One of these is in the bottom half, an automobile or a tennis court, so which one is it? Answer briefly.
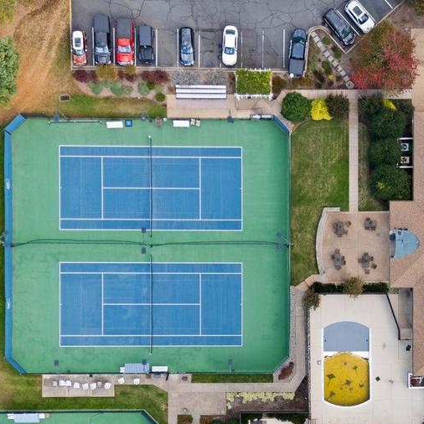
tennis court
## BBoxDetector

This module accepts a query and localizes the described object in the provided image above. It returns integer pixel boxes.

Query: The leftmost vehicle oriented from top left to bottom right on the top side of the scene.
[323,7,353,48]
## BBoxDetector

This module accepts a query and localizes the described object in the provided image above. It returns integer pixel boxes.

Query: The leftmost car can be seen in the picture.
[71,32,87,66]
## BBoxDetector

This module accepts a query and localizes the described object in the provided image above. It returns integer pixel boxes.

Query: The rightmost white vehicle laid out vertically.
[221,27,238,67]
